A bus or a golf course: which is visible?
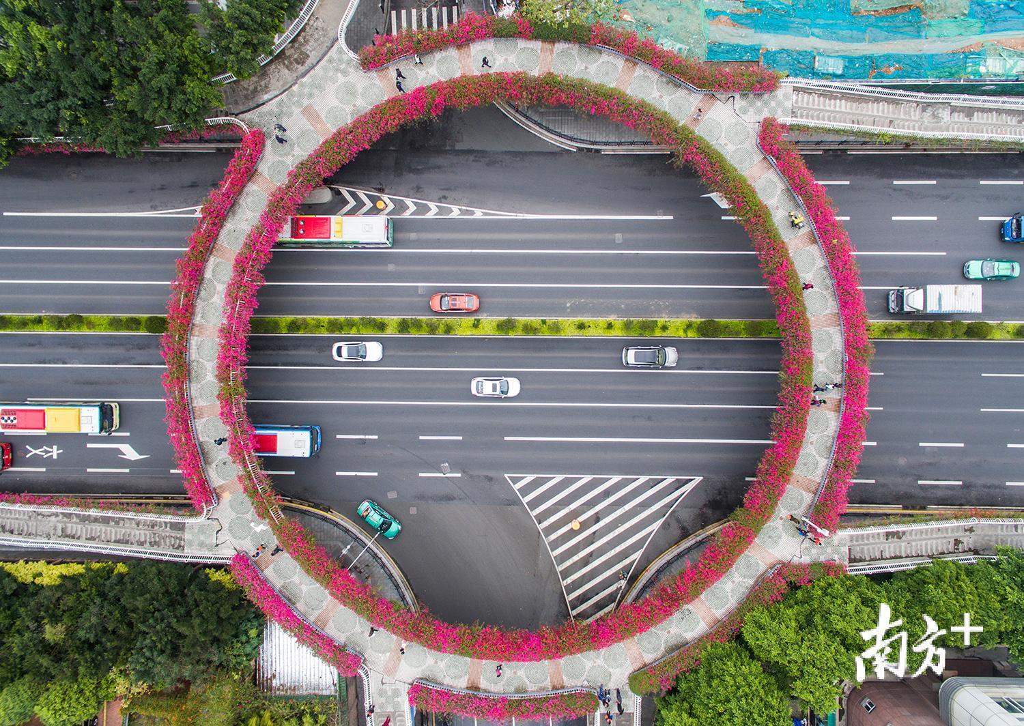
bus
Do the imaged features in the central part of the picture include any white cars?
Yes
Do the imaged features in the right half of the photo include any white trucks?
Yes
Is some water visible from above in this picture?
No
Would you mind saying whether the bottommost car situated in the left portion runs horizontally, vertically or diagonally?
diagonally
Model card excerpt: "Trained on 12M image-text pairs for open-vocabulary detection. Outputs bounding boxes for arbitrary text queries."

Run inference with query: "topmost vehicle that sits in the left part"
[279,211,393,244]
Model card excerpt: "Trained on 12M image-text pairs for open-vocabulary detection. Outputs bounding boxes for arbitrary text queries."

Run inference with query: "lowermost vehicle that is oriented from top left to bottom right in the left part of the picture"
[359,499,401,540]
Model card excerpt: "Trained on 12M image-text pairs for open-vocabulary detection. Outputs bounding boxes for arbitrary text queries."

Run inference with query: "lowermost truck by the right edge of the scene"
[883,282,985,316]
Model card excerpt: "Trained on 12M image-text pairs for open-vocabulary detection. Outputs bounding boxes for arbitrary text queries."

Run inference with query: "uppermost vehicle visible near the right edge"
[996,212,1024,247]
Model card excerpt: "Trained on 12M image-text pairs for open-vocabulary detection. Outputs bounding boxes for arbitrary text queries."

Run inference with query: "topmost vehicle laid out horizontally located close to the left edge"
[0,401,116,436]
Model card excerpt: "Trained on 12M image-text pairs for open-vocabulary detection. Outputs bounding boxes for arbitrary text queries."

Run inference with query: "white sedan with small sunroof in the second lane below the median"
[471,376,520,399]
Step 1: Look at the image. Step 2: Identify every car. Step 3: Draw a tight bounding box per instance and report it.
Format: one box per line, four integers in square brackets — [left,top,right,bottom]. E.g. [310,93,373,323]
[359,499,401,540]
[471,376,520,399]
[0,446,13,466]
[622,344,676,368]
[959,257,1017,281]
[431,291,479,314]
[332,340,383,363]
